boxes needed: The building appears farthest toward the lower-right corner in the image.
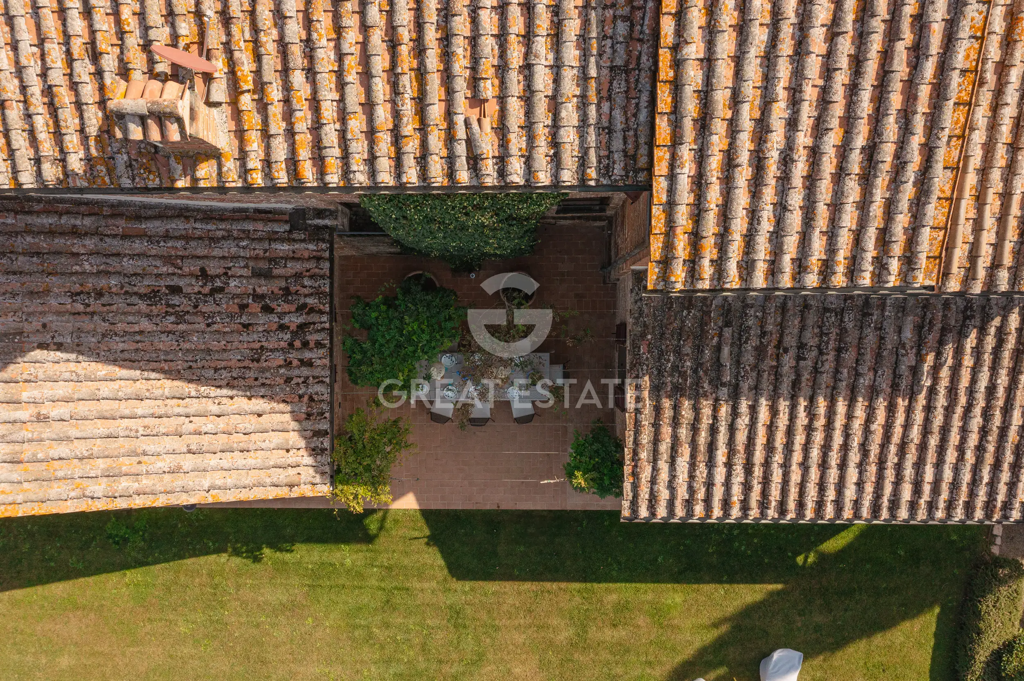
[612,259,1024,526]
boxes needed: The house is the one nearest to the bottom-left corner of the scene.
[0,196,342,523]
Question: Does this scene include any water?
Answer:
No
